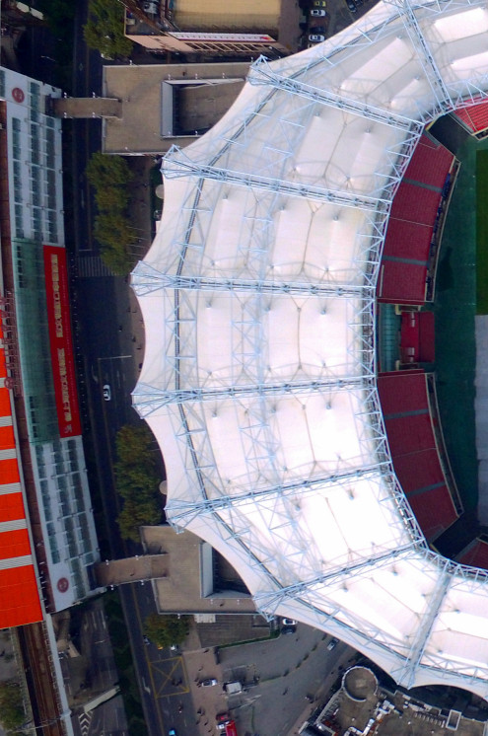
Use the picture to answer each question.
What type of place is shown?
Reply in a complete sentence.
The picture captures a sports ground.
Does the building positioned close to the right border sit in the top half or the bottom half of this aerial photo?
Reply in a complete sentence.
The bottom half of the photo is where the building positioned close to the right border is.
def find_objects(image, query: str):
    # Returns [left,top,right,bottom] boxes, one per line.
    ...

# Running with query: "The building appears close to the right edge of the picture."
[301,649,488,736]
